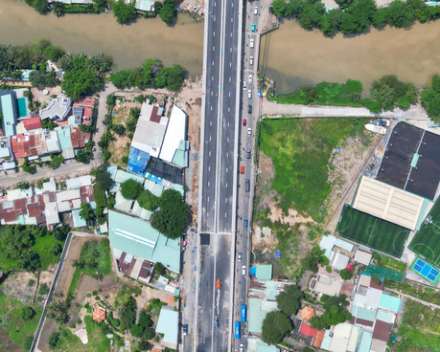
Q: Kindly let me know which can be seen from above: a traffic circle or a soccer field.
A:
soccer field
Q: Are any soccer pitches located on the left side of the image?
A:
No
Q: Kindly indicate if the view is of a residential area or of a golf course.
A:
residential area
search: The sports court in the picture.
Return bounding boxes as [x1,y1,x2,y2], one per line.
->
[410,256,440,285]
